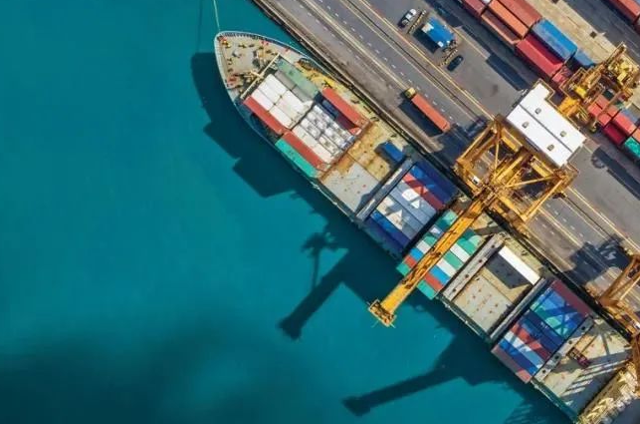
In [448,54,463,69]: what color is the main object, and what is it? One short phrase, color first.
black car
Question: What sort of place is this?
port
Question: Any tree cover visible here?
No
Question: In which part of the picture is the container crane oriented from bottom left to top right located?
right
